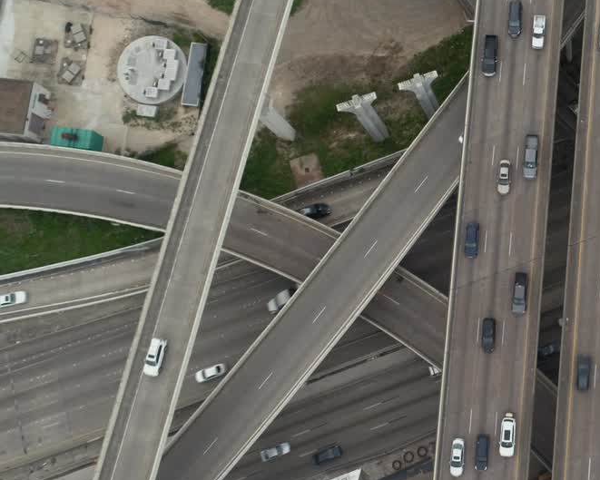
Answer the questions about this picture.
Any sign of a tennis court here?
No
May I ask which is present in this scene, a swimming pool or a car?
car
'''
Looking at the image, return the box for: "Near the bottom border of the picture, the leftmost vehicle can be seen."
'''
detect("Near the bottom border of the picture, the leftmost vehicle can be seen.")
[260,441,291,462]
